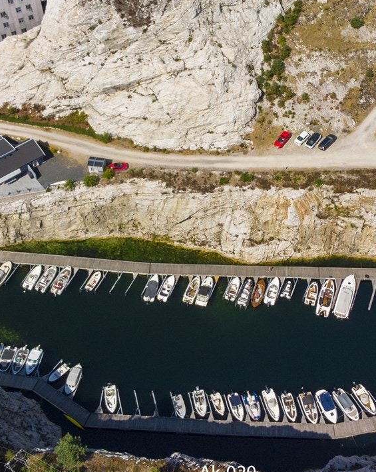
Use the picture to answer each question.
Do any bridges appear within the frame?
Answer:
No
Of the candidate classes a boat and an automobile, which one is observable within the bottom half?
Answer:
boat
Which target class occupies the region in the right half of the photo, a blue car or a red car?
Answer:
red car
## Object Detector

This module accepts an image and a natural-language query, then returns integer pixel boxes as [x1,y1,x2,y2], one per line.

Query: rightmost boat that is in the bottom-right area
[349,381,375,416]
